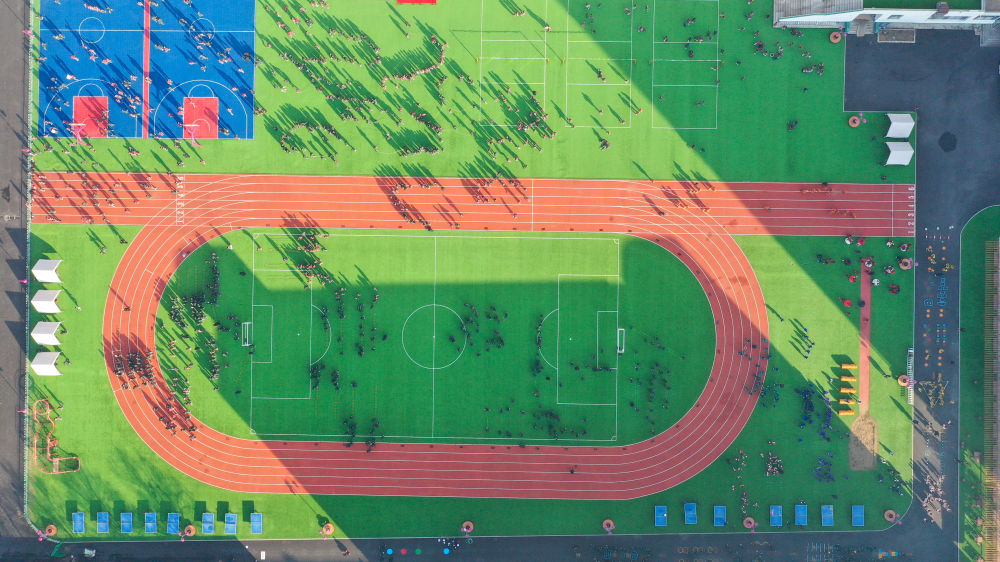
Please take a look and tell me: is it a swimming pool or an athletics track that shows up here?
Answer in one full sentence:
It is an athletics track that can be seen here.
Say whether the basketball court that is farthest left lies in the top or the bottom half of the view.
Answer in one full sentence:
You can find the basketball court that is farthest left in the top half.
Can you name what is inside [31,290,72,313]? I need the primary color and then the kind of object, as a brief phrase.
white tent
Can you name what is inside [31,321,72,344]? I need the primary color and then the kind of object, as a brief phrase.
white tent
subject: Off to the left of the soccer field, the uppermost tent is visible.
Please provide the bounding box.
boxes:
[31,259,72,282]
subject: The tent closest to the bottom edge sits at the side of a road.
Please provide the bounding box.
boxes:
[31,351,72,375]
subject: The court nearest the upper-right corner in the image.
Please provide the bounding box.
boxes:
[652,0,720,128]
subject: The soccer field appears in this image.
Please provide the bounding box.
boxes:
[250,234,619,441]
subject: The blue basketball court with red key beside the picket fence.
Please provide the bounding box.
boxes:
[38,0,144,139]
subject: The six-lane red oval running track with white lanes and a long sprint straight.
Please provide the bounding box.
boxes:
[33,175,916,497]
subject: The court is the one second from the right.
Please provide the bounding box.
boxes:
[565,0,633,127]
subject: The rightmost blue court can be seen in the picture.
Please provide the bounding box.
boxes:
[148,0,255,139]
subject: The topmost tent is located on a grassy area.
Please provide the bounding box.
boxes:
[878,114,917,140]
